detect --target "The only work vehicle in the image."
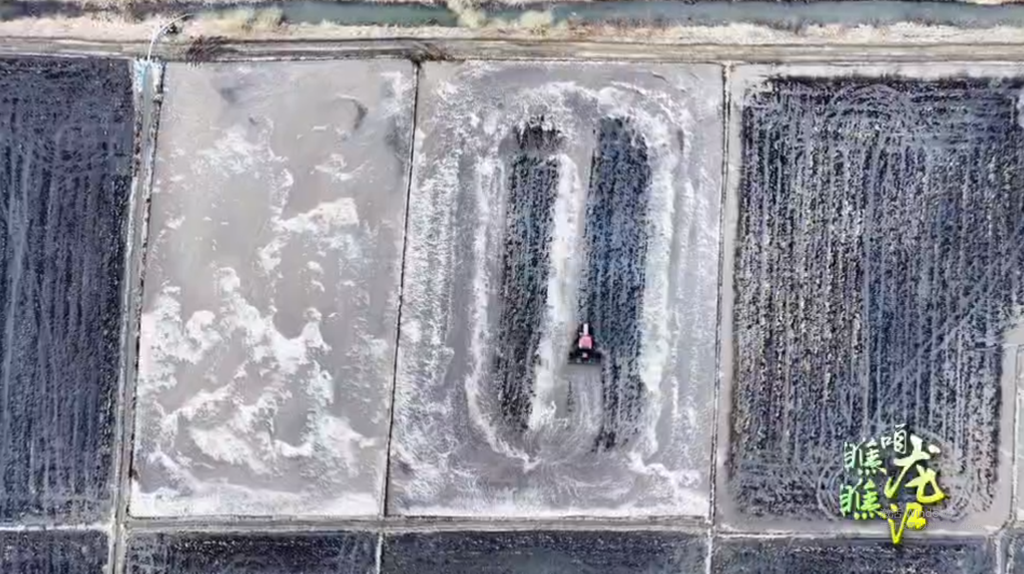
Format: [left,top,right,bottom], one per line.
[570,322,602,365]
